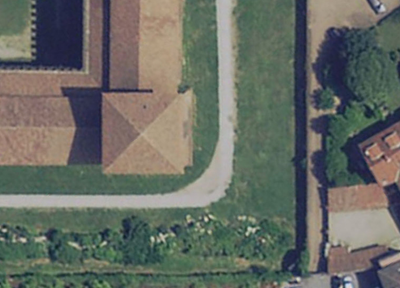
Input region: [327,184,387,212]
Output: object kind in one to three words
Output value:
shed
